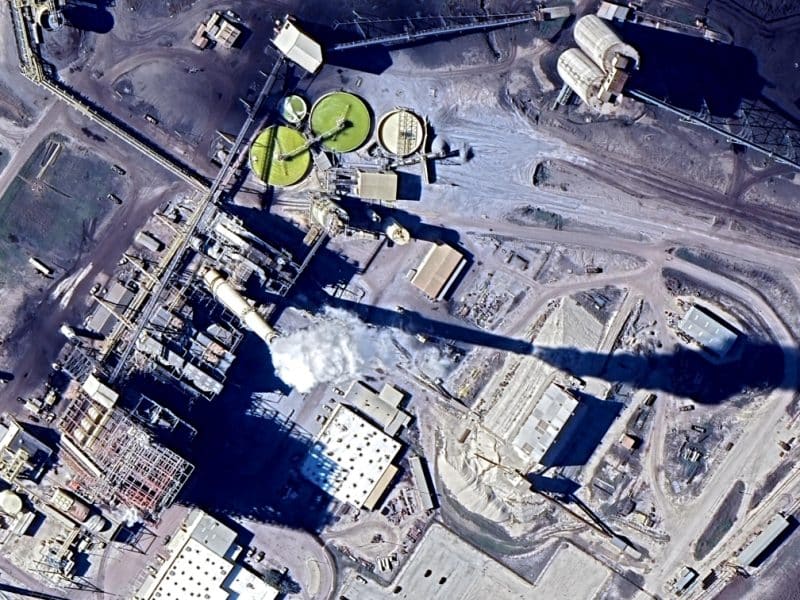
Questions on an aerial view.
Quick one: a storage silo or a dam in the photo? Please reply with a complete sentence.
The image shows a storage silo.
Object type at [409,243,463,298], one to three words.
building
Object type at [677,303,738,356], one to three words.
shed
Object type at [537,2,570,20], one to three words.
house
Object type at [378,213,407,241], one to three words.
silo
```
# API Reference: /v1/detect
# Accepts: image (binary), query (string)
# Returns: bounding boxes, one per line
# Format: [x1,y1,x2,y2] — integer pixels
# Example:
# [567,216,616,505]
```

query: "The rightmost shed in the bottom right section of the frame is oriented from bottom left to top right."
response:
[737,510,790,566]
